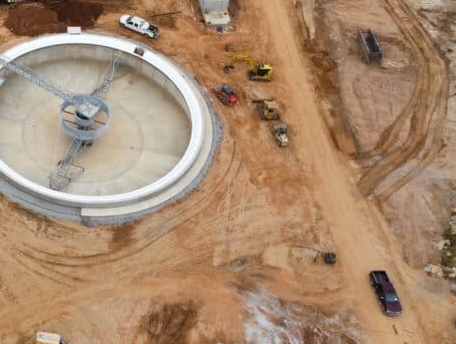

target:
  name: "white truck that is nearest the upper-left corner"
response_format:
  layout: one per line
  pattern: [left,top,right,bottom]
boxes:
[118,15,162,39]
